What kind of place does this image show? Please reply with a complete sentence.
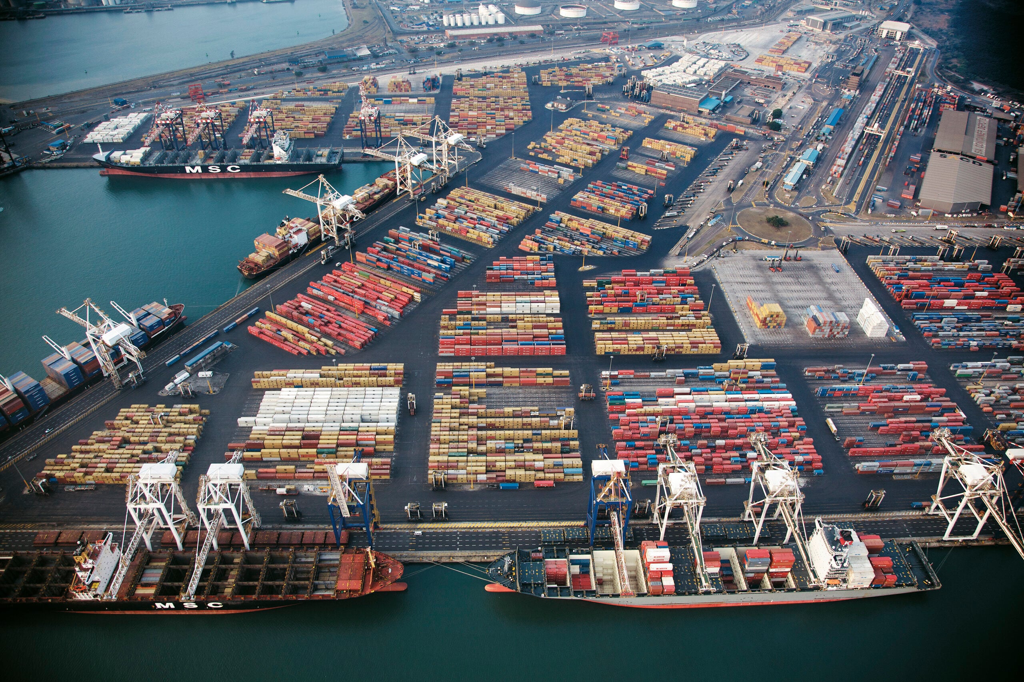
This looks like a port.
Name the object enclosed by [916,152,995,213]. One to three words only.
shed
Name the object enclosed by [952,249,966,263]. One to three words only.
work vehicle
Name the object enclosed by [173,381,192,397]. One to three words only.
work vehicle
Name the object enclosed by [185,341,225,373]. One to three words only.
building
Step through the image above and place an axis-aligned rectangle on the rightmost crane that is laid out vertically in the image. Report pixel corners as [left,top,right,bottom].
[987,433,1024,532]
